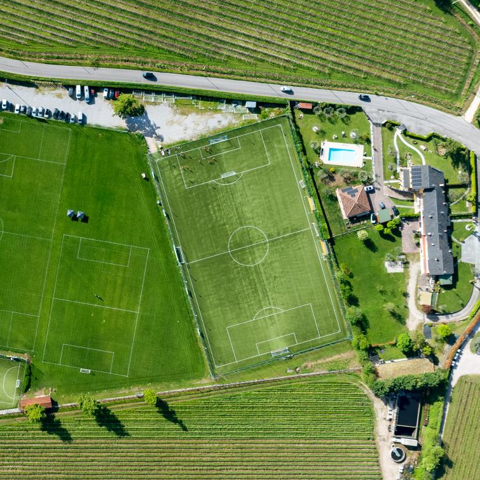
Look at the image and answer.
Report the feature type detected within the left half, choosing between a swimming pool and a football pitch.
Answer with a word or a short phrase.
football pitch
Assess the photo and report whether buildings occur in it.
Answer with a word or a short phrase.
Yes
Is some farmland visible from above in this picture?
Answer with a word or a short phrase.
Yes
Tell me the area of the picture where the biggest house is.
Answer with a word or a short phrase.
right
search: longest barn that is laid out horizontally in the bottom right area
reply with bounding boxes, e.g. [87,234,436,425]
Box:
[373,359,434,376]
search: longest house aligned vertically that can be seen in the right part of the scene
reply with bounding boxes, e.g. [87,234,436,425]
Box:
[399,166,454,285]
